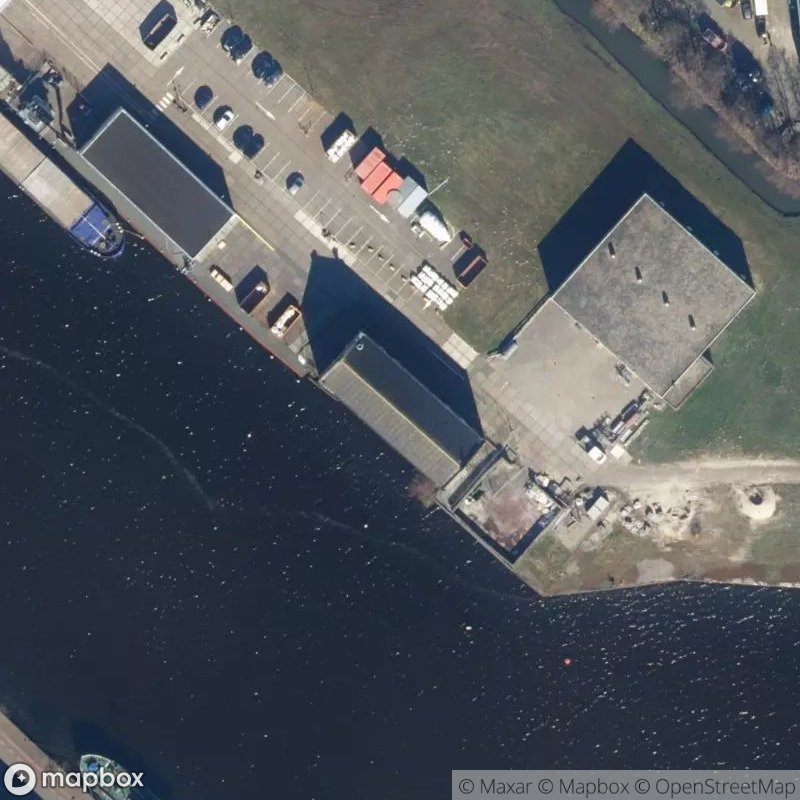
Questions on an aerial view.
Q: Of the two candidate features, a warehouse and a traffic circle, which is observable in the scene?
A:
warehouse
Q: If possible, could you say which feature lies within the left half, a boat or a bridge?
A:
boat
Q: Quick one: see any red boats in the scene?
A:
No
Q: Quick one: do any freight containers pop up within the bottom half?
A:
No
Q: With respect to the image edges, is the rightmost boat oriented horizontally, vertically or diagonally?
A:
diagonally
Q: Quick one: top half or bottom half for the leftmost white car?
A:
top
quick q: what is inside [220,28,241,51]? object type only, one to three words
car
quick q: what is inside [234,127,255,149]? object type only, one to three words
car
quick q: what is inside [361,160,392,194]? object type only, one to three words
shipping container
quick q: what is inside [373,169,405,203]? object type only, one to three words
shipping container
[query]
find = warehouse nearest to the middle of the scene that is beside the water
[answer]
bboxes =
[318,329,486,489]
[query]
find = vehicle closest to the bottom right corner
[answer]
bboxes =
[588,445,607,463]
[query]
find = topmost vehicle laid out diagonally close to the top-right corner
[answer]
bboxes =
[703,25,728,51]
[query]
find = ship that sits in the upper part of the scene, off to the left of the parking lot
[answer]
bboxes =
[0,103,146,259]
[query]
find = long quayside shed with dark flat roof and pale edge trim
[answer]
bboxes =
[80,105,234,259]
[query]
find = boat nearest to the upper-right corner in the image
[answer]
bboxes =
[420,212,452,242]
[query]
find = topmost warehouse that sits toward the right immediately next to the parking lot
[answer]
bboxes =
[552,190,756,395]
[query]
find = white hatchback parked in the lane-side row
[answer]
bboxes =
[213,109,234,131]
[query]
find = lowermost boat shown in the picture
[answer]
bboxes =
[78,752,144,800]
